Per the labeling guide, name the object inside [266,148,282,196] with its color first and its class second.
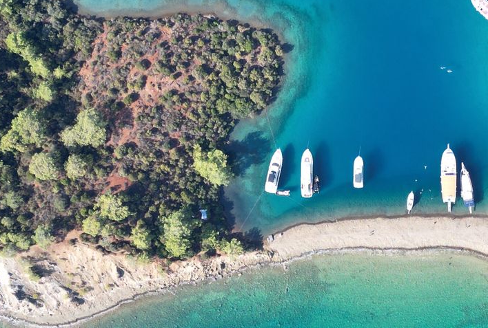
white boat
